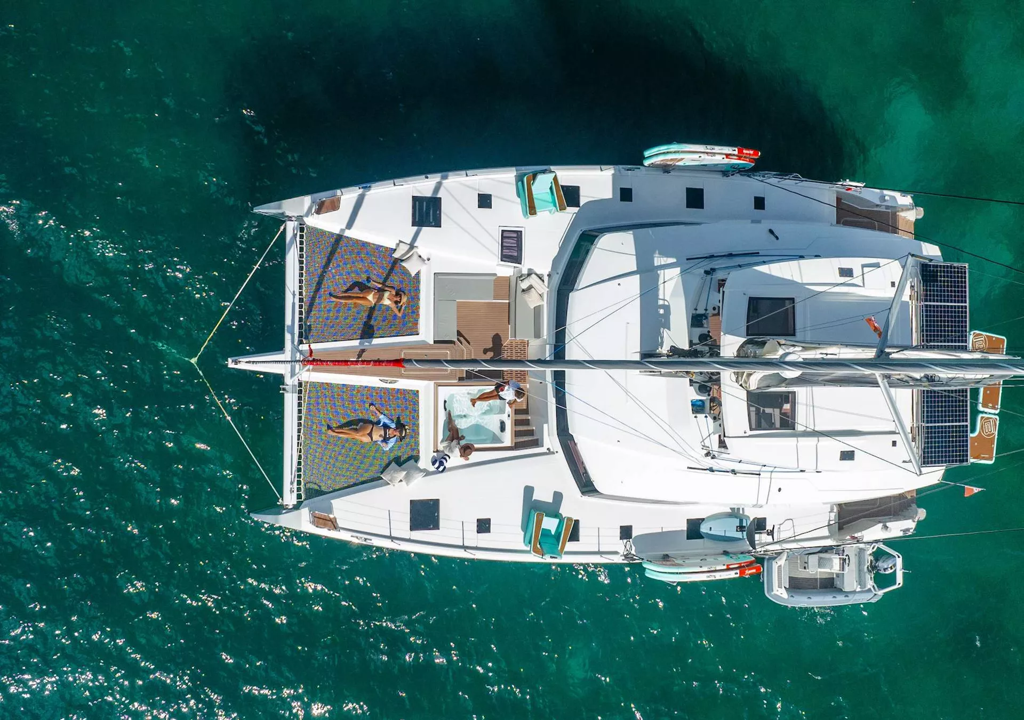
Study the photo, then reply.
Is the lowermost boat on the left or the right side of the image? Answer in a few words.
right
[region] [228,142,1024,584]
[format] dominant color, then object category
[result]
white boat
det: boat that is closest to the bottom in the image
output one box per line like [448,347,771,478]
[763,542,910,607]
